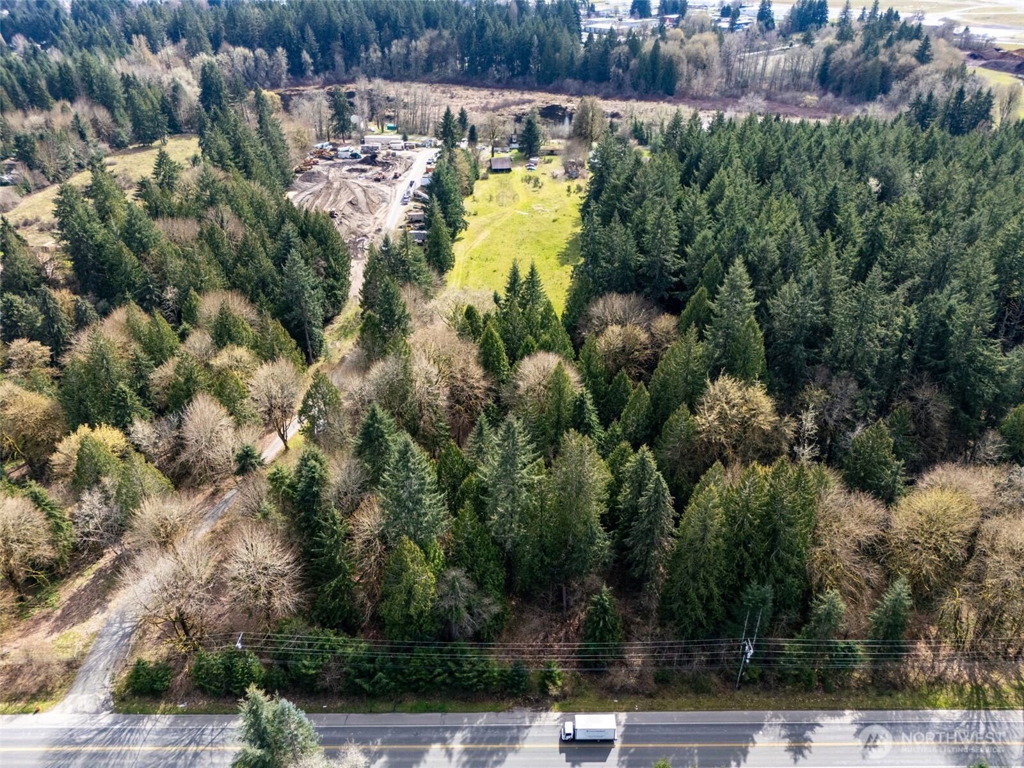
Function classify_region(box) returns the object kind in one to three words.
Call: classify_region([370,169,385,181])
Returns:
vehicle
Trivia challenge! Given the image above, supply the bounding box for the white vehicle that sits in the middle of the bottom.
[561,711,623,741]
